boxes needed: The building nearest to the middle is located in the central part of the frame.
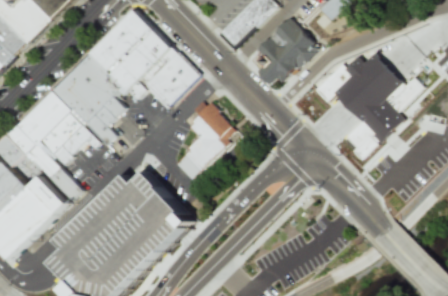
[179,102,245,176]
